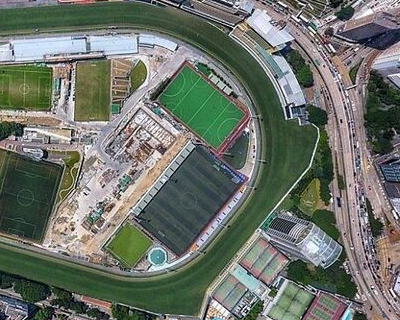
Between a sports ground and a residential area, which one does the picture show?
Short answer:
sports ground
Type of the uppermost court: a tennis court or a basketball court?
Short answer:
tennis court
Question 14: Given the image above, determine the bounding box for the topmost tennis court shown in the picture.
[240,238,292,286]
